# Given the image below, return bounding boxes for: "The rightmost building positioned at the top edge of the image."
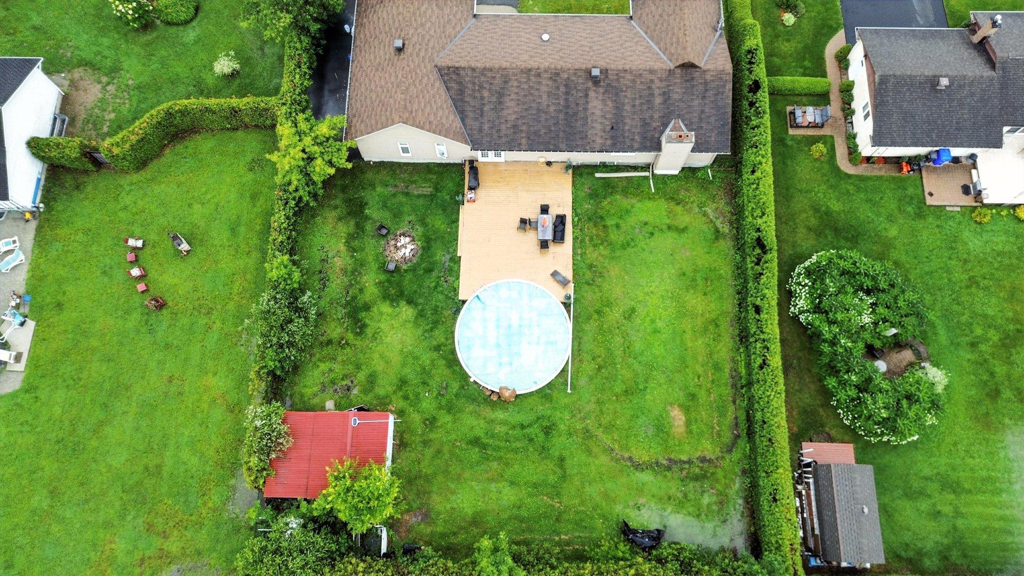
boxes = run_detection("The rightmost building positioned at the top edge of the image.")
[848,3,1024,156]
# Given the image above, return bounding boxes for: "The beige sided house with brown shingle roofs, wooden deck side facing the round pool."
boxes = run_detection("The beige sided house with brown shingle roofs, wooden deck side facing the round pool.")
[343,0,733,192]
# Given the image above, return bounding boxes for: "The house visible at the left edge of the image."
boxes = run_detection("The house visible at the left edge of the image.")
[0,56,63,206]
